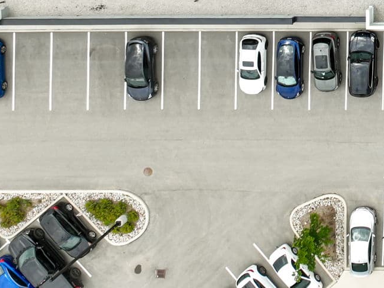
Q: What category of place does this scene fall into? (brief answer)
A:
parking lot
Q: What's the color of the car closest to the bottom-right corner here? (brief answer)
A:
white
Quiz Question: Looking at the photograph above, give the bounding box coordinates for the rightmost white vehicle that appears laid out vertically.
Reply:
[347,207,378,276]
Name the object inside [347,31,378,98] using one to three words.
car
